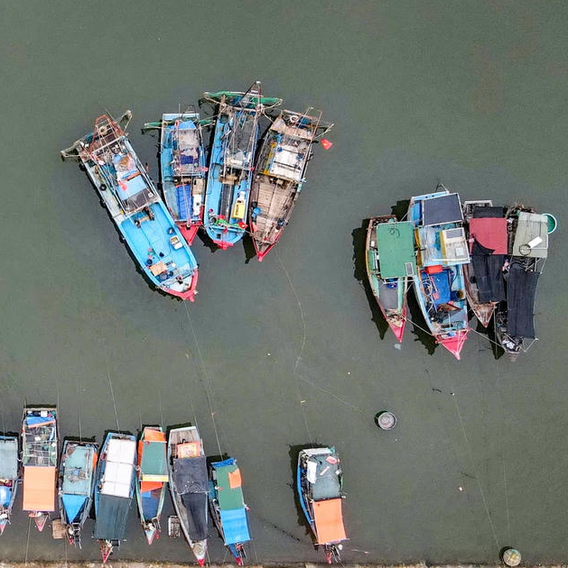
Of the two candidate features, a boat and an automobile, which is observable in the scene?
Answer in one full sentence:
It is a boat that can be seen here.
